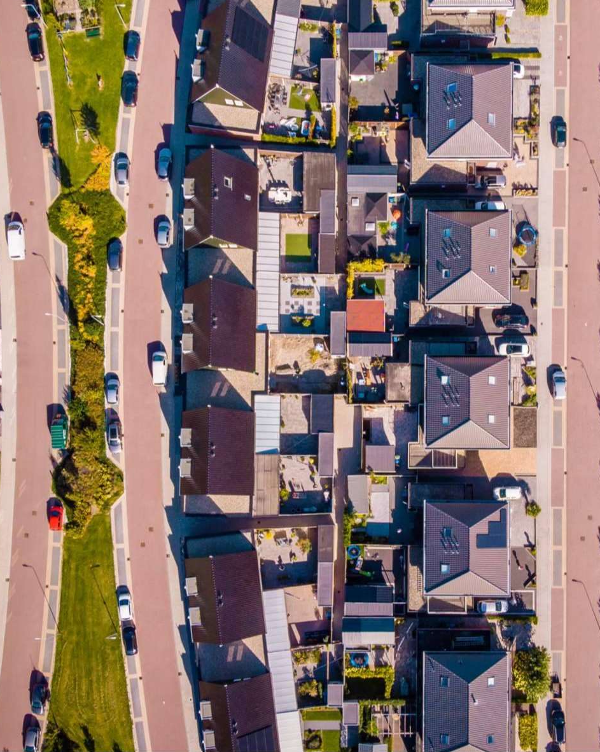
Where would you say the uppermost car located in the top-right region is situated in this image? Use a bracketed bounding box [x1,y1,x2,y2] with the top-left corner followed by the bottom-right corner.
[494,58,527,78]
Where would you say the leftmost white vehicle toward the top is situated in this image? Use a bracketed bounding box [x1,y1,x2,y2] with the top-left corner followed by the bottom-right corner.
[2,218,25,260]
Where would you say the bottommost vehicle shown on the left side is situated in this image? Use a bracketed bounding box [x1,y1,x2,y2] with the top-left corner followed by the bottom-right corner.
[20,723,42,752]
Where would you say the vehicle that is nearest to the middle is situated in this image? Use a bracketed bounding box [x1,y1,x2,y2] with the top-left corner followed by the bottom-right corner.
[147,346,168,388]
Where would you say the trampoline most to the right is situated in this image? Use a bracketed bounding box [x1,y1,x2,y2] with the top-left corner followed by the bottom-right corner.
[518,221,538,242]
